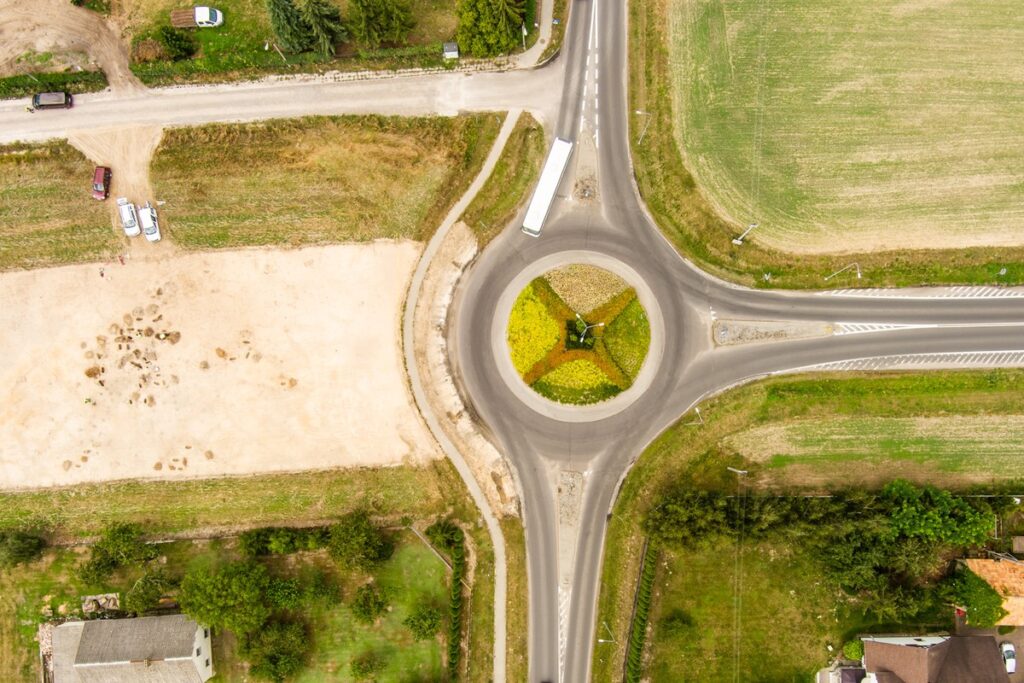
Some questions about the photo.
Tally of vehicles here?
seven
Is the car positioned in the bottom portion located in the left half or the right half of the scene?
right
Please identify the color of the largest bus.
white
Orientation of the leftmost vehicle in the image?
from side to side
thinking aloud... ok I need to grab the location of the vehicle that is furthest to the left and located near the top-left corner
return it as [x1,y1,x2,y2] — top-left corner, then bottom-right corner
[31,89,73,110]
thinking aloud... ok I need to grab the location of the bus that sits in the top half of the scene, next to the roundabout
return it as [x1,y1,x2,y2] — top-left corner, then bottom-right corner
[516,136,574,239]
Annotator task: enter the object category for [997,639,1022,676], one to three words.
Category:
car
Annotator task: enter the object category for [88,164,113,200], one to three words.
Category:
car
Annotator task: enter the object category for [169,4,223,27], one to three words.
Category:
truck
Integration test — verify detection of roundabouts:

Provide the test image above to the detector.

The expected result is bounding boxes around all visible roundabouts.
[456,215,704,461]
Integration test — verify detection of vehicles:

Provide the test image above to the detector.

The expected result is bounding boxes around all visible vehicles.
[115,193,141,238]
[88,164,113,200]
[135,197,161,242]
[31,89,73,110]
[169,4,223,27]
[997,639,1022,676]
[516,136,574,239]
